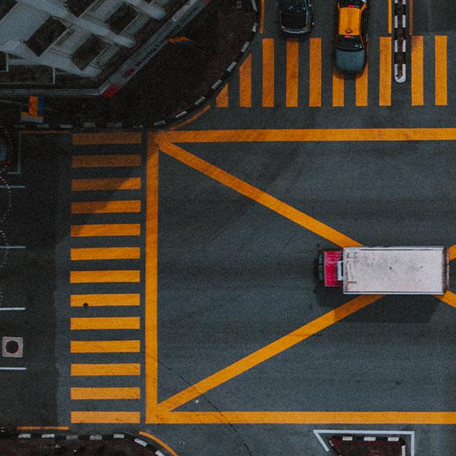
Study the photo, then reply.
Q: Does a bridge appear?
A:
No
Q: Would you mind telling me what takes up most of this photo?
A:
paved ground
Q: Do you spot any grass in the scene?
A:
No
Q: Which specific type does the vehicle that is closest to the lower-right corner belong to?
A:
truck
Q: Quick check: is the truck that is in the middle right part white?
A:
Yes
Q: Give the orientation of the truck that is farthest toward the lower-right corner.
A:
from side to side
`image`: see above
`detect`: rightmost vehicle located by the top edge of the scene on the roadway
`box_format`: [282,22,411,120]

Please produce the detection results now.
[328,0,371,74]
